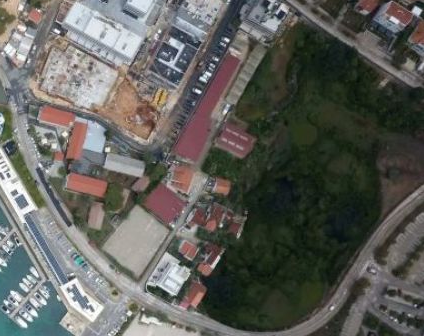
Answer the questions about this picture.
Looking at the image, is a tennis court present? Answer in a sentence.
No, the frame has no tennis court in it.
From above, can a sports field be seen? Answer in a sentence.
Yes, there is a sports field in the image.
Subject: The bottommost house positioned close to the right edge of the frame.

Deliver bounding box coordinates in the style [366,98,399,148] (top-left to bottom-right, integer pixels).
[403,21,424,60]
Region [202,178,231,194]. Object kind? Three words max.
house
